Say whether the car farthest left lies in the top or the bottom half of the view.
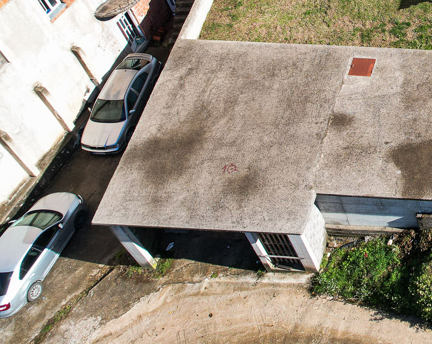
bottom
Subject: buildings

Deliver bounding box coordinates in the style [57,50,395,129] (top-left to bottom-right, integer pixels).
[93,39,432,280]
[0,0,177,233]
